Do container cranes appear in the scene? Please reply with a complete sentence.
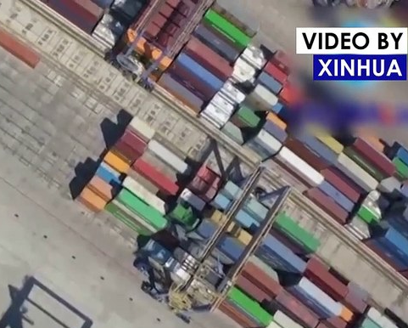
Yes, this view includes a container crane.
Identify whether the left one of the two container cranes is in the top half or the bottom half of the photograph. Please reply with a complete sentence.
Seen from above, the left one of the two container cranes lies in the top half of the view.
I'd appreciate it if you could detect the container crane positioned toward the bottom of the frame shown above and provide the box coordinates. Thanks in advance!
[146,166,299,308]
